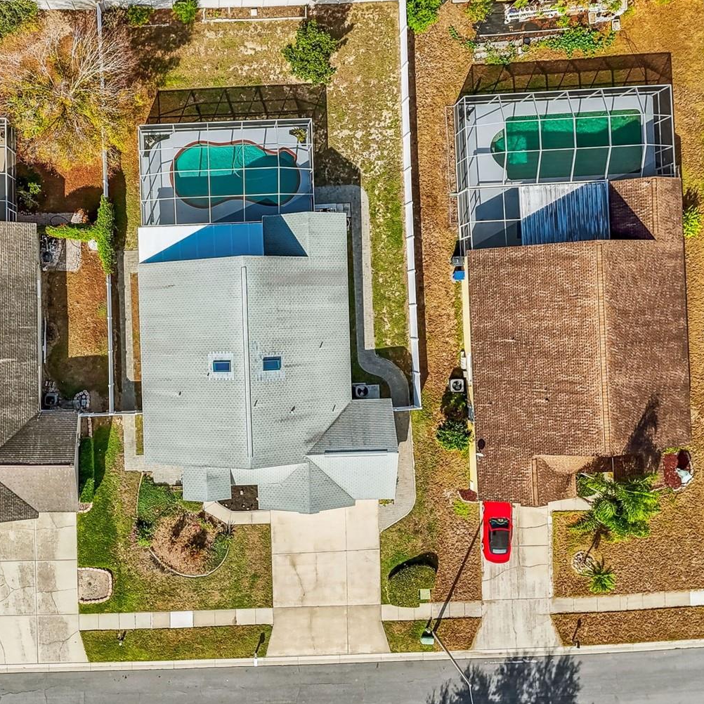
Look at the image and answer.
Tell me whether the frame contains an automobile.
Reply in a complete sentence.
Yes, there's an automobile down there.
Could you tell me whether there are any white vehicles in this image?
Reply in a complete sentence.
No, no white vehicle is visible in the view.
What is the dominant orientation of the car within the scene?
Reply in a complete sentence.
From this overhead view, the car appears to run vertically.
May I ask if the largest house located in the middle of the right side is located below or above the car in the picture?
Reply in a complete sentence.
The largest house located in the middle of the right side is located above the car in this view.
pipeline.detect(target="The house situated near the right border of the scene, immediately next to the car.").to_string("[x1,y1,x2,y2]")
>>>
[457,177,690,507]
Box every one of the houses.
[0,221,81,524]
[457,177,690,507]
[137,212,398,513]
